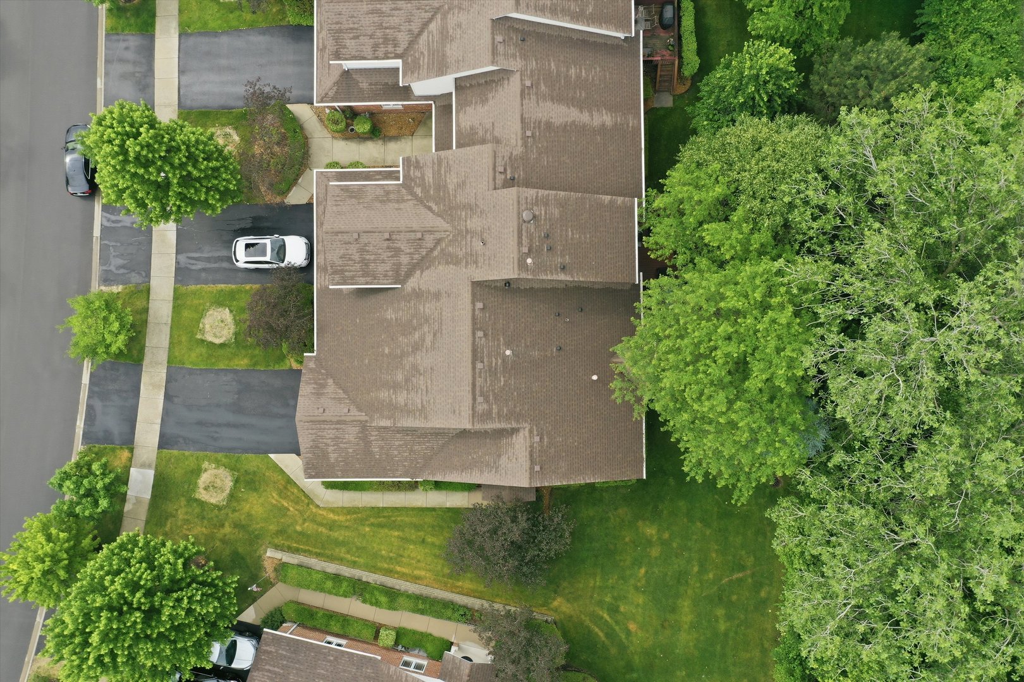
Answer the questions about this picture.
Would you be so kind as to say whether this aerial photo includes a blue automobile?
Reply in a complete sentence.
No, the photo shows no blue automobile.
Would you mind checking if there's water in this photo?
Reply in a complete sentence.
No, water can't be seen anywhere here.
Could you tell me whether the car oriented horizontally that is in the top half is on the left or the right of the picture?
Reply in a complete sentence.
The car oriented horizontally that is in the top half appears in the left half of the scene.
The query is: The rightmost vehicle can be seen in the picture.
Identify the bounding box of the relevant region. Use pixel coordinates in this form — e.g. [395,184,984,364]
[234,233,312,270]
